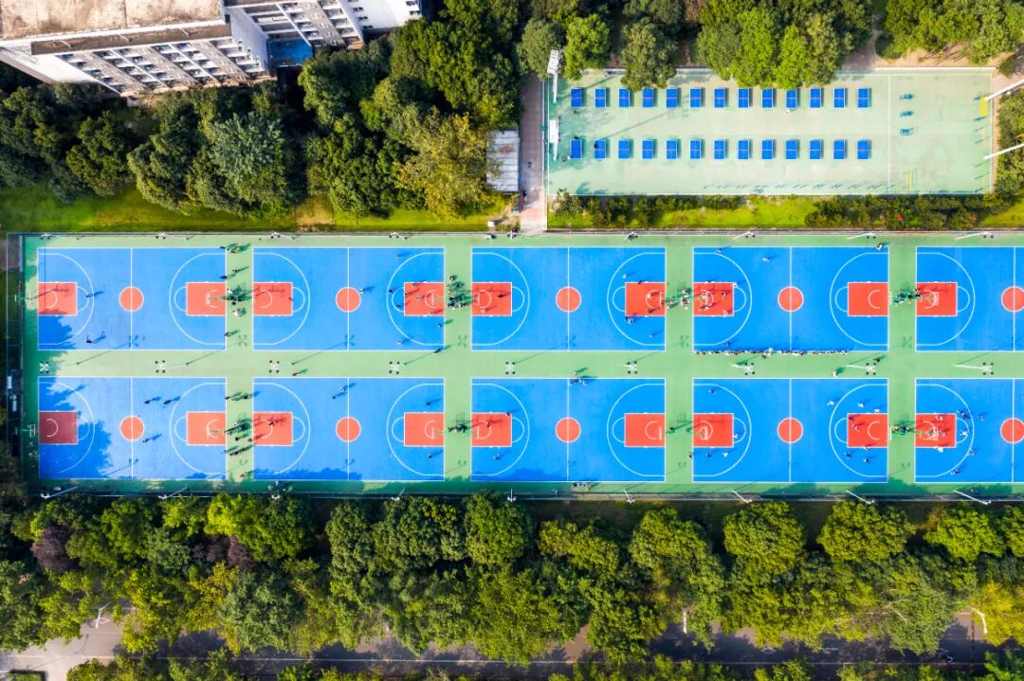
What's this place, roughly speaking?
sports ground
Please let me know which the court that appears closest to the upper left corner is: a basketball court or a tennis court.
basketball court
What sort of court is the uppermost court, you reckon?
tennis court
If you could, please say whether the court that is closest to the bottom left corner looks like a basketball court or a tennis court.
basketball court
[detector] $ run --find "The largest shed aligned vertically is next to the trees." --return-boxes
[488,128,519,193]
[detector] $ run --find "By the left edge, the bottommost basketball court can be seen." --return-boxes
[38,377,227,480]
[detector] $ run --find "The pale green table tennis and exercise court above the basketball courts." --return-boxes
[547,65,995,197]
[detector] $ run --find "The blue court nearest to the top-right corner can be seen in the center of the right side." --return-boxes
[915,246,1024,351]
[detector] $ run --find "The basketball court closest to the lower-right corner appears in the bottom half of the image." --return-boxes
[915,379,1024,484]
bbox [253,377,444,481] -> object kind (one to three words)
basketball court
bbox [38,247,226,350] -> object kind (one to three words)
basketball court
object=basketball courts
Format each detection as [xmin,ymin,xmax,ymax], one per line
[38,247,226,350]
[915,246,1024,351]
[693,246,889,351]
[253,247,444,350]
[471,378,665,482]
[915,379,1024,484]
[472,246,666,351]
[253,377,444,481]
[692,378,889,483]
[38,377,227,480]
